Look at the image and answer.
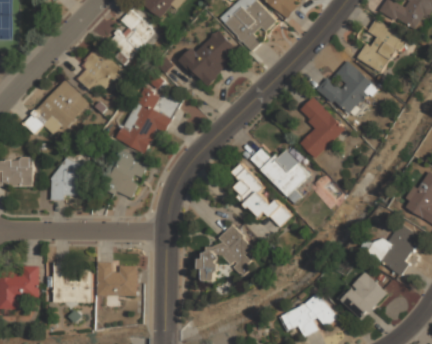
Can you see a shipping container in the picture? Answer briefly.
No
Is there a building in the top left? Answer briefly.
Yes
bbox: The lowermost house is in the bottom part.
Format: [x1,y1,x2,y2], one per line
[281,297,334,338]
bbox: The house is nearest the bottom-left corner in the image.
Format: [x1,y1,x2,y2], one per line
[0,267,38,312]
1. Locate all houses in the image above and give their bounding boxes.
[38,80,88,133]
[281,297,334,338]
[50,158,82,200]
[298,100,347,160]
[220,0,278,50]
[264,0,298,16]
[342,275,388,314]
[142,0,186,18]
[318,64,378,116]
[358,22,404,72]
[51,264,92,310]
[0,267,38,312]
[177,32,232,84]
[112,9,156,64]
[194,224,250,282]
[0,158,35,188]
[405,170,432,228]
[230,164,292,228]
[76,54,120,90]
[109,150,146,200]
[97,262,138,308]
[260,149,312,198]
[364,226,418,275]
[116,78,178,152]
